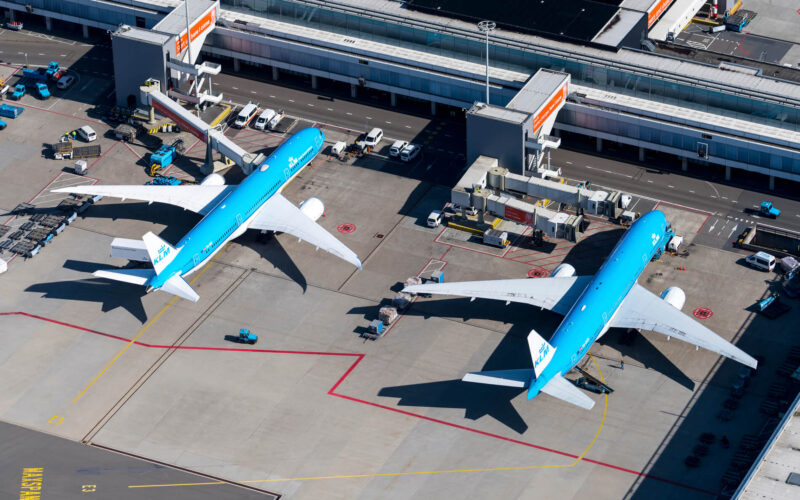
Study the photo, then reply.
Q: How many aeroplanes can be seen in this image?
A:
two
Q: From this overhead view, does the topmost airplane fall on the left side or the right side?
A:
left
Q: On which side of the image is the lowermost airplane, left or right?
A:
right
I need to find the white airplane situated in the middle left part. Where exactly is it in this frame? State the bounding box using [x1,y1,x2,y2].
[52,132,361,302]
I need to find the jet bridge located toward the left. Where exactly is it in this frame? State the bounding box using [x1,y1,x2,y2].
[140,73,269,177]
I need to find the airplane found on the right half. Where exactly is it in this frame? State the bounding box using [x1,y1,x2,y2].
[400,218,757,409]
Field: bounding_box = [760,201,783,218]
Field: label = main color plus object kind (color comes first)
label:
blue work vehicle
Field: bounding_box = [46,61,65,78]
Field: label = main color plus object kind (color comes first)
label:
blue work vehicle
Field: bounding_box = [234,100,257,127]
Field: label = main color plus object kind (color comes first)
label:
white vehicle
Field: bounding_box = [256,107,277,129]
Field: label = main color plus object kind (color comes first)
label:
white vehicle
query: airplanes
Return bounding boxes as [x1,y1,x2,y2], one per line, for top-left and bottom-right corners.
[400,218,757,409]
[52,132,361,302]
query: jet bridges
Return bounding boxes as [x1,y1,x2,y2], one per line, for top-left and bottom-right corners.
[485,166,626,223]
[466,187,586,250]
[140,73,269,177]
